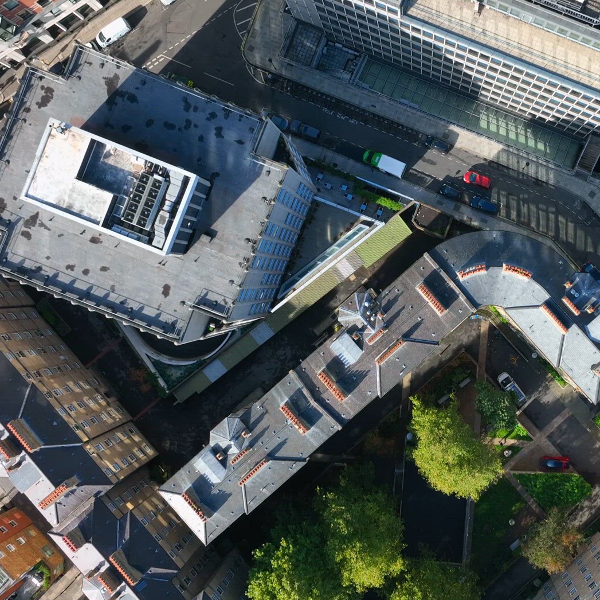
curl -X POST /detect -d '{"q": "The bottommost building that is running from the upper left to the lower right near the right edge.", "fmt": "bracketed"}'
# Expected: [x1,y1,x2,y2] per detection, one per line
[427,230,600,404]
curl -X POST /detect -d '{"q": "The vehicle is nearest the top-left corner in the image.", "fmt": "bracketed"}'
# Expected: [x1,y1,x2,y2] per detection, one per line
[95,15,132,51]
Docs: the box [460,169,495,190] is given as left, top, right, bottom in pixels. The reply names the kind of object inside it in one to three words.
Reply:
car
